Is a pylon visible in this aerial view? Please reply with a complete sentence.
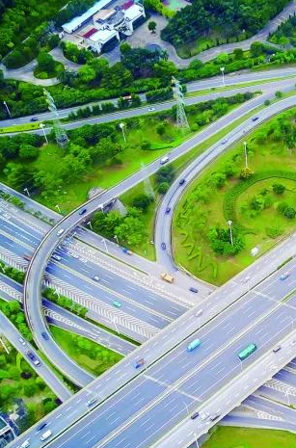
Yes, looking at the shot, I can spot a pylon.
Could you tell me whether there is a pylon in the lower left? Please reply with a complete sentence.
No, no pylon appears in the lower left.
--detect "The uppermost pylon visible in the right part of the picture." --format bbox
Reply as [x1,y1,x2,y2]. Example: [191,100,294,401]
[168,76,192,129]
